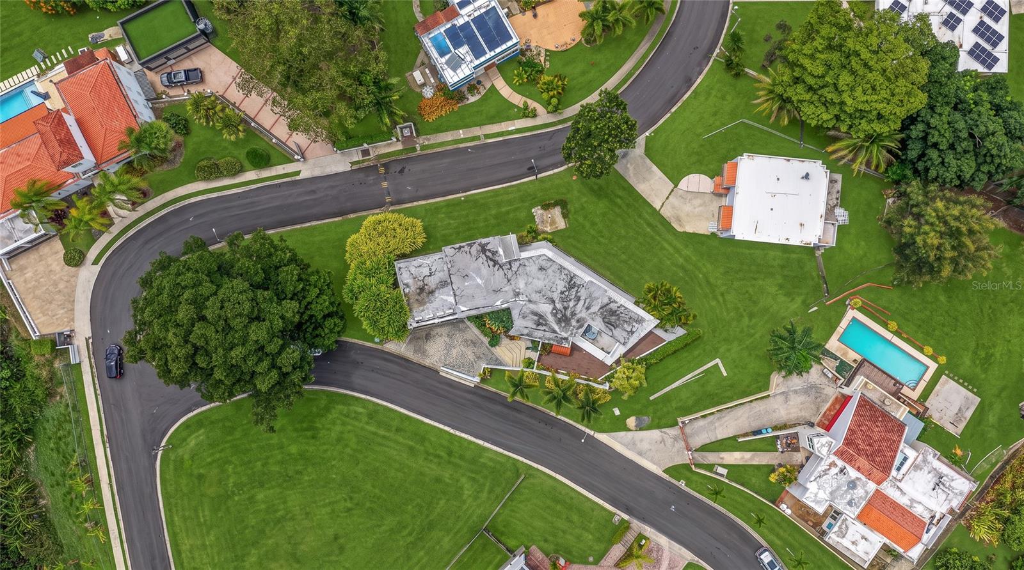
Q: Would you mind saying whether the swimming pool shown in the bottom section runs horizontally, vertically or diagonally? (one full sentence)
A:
The swimming pool shown in the bottom section runs diagonally in the image.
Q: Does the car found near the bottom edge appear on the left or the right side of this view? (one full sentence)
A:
The car found near the bottom edge is on the right side of the image.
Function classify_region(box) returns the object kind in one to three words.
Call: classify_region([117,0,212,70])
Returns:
building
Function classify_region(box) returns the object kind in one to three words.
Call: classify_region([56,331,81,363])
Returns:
building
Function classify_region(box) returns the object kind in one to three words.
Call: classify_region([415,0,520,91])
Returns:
house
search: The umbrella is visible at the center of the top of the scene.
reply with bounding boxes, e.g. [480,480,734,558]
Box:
[421,85,435,99]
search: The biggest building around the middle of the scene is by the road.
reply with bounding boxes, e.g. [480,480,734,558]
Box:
[395,234,661,367]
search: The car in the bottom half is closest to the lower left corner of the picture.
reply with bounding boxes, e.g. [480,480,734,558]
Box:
[104,345,125,379]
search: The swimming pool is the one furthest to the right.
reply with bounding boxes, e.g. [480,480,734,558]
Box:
[836,315,931,393]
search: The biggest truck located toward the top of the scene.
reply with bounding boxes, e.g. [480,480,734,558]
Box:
[161,66,203,87]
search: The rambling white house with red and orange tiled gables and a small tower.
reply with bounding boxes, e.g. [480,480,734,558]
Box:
[786,377,981,569]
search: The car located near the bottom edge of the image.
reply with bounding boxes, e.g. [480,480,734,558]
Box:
[756,545,781,570]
